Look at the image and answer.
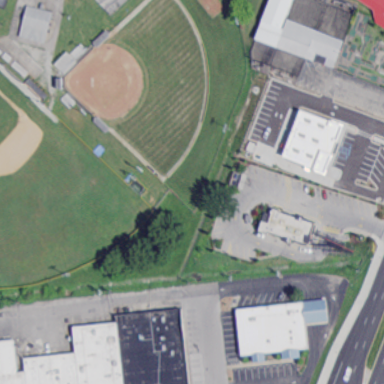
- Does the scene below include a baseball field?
Yes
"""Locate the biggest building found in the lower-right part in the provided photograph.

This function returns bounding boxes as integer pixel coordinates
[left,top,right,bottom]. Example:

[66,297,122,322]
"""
[236,299,330,363]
